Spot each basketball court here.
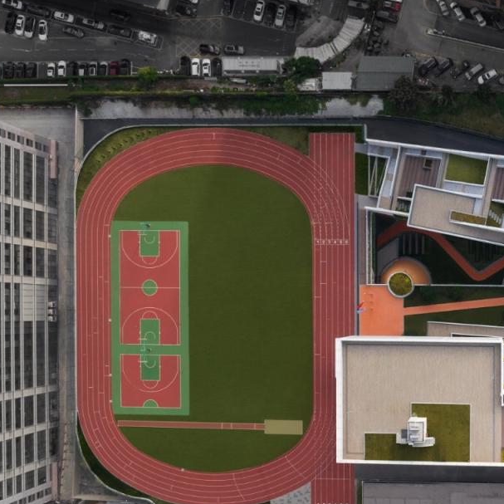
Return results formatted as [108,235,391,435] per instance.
[112,350,189,415]
[112,221,189,350]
